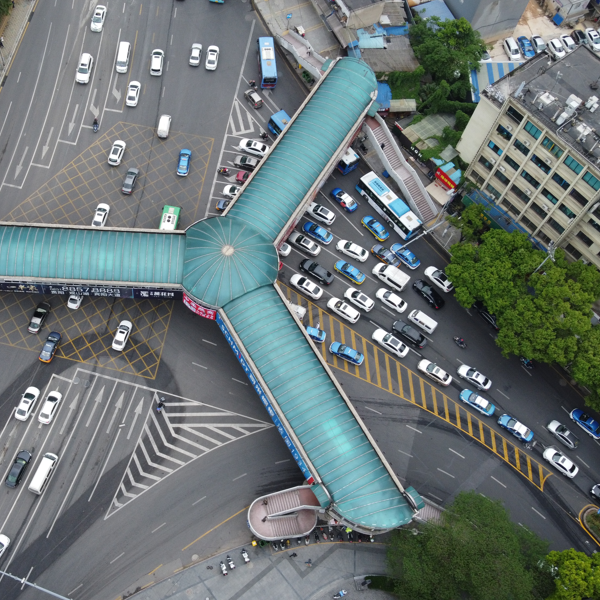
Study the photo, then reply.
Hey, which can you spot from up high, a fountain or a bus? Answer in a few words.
bus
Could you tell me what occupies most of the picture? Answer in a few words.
paved ground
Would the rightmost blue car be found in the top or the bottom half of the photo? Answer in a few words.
bottom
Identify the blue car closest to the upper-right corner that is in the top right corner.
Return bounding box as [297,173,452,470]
[518,36,536,58]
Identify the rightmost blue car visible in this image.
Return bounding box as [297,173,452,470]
[570,410,600,438]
